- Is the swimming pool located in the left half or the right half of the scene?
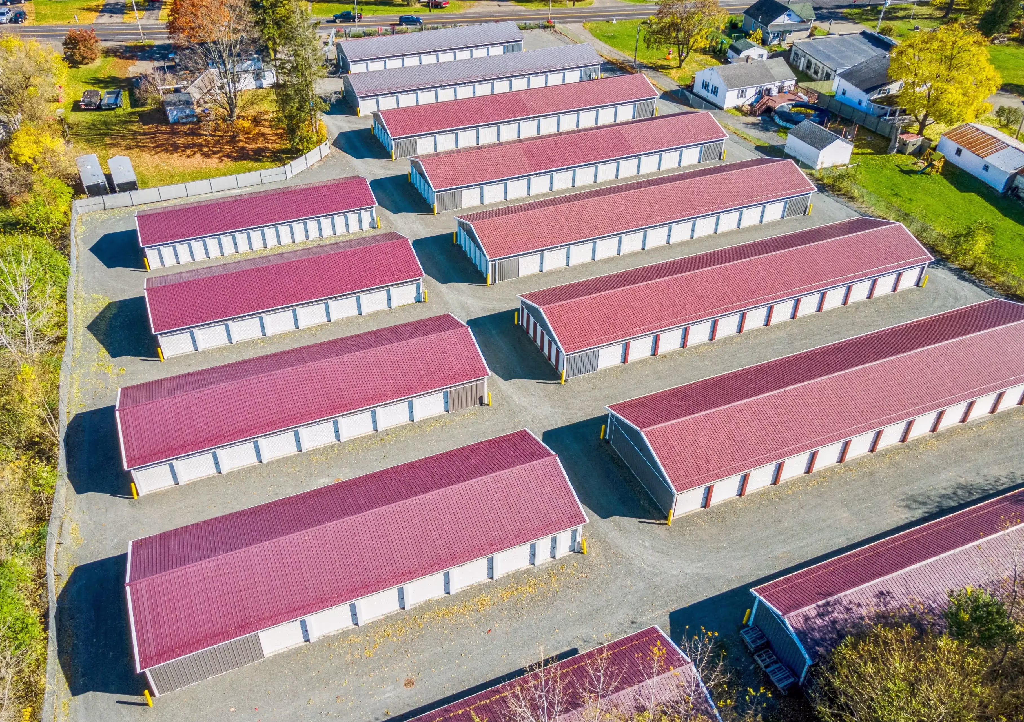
right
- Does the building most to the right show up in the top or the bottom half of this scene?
top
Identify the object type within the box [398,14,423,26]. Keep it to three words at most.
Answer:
vehicle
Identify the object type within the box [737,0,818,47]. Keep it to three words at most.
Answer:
house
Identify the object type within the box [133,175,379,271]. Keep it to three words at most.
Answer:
building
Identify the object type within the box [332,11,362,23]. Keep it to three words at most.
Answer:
vehicle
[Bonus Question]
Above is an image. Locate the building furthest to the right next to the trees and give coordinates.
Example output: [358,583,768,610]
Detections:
[934,119,1024,193]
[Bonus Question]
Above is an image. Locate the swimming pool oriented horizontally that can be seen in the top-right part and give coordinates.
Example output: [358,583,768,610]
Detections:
[773,107,830,130]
